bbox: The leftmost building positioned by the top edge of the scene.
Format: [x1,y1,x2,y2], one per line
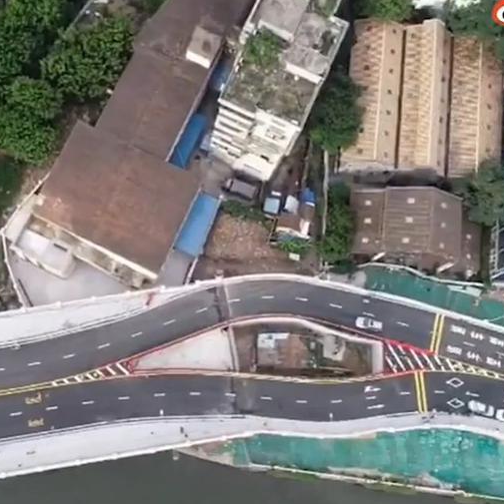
[94,0,260,172]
